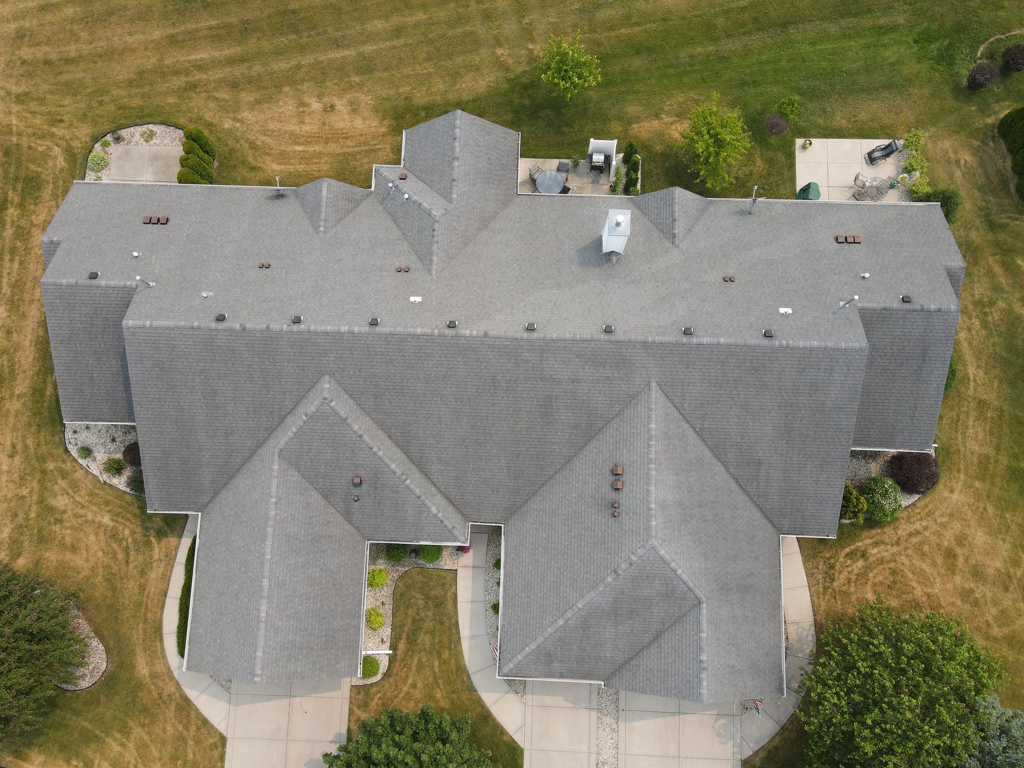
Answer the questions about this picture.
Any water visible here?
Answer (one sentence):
No, the scene doesn't show any water.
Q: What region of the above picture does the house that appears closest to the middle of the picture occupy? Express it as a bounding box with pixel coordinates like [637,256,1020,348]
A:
[40,112,964,704]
